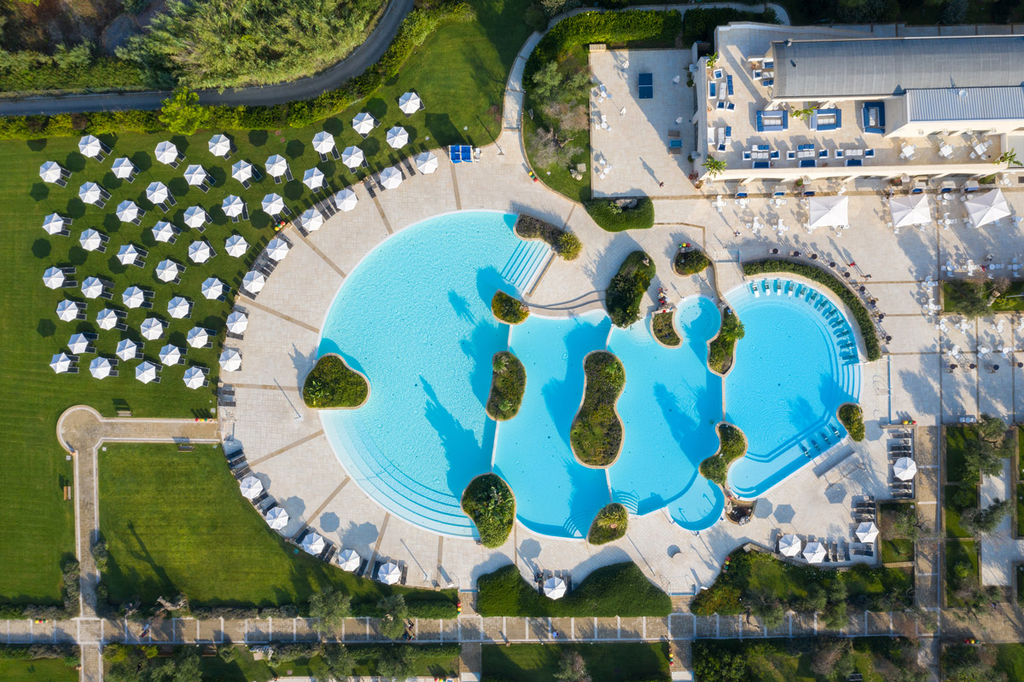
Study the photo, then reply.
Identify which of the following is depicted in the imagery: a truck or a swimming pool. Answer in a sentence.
Of the two, only a swimming pool appears.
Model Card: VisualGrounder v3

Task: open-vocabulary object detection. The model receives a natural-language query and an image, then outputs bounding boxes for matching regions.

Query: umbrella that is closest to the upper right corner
[963,188,1011,228]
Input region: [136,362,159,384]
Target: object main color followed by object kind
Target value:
white umbrella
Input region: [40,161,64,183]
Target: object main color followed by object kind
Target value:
white umbrella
